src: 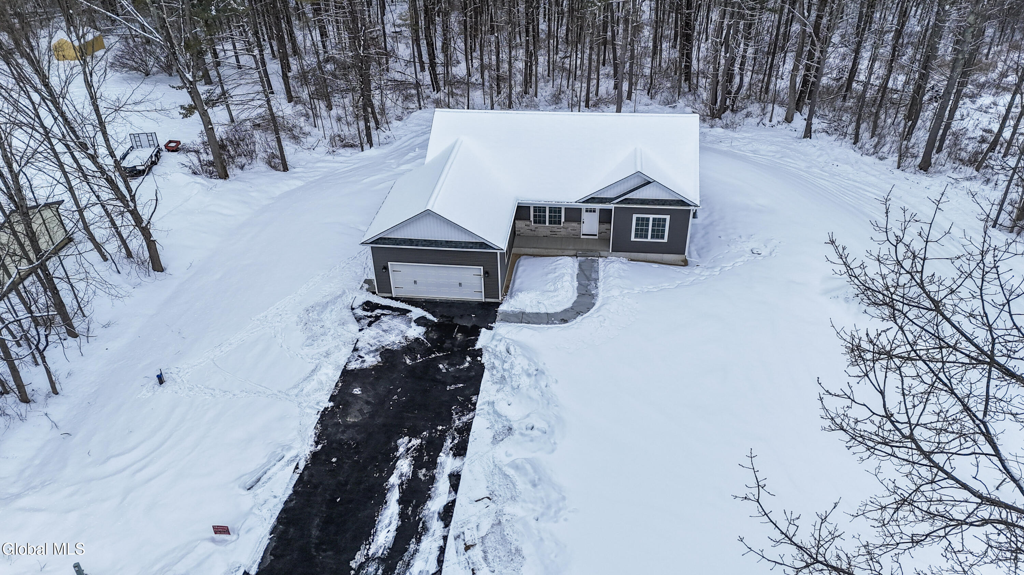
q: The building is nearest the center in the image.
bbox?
[360,104,711,302]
